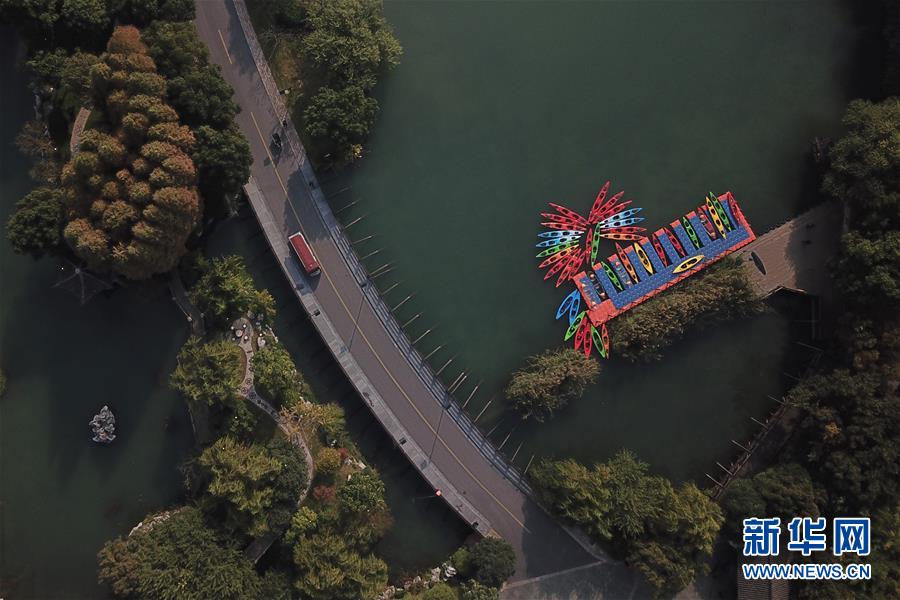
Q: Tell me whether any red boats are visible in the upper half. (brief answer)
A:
Yes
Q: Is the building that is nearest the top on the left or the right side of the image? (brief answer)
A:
left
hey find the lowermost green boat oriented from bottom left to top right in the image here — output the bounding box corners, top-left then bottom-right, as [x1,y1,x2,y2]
[565,311,586,340]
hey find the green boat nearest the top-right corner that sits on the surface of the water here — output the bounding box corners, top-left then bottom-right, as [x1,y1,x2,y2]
[710,192,731,232]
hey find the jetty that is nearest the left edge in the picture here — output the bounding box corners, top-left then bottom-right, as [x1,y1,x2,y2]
[570,191,757,327]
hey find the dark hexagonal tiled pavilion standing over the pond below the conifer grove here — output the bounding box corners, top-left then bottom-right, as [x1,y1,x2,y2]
[51,241,113,306]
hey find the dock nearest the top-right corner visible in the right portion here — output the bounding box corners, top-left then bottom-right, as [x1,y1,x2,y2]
[741,199,848,300]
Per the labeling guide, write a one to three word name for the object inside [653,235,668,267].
boat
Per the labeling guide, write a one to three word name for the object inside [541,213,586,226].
boat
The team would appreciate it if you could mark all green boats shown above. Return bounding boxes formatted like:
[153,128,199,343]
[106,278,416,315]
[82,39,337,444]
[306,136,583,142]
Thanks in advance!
[684,217,700,249]
[710,192,731,232]
[601,262,622,291]
[592,223,601,265]
[565,311,586,340]
[592,324,605,358]
[536,241,579,257]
